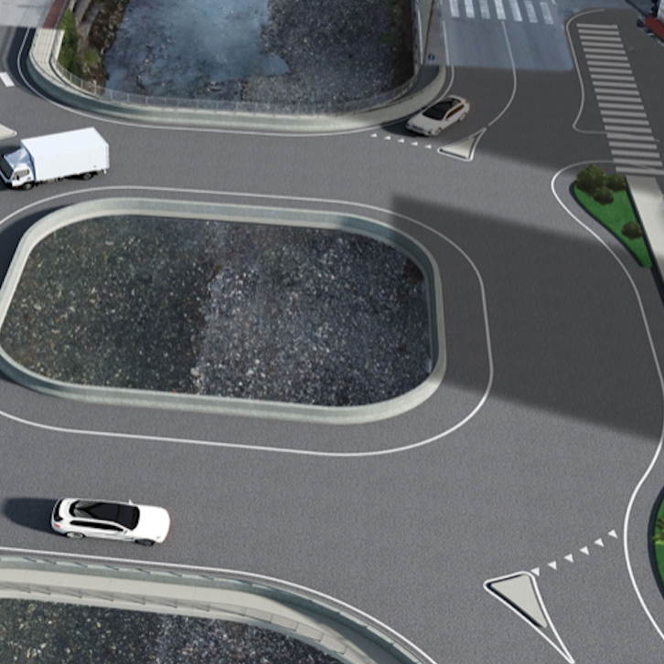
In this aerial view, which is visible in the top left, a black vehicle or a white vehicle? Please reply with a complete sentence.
What appears in the top left is a white vehicle.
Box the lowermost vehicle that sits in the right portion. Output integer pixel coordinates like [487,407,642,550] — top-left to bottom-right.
[414,95,470,135]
